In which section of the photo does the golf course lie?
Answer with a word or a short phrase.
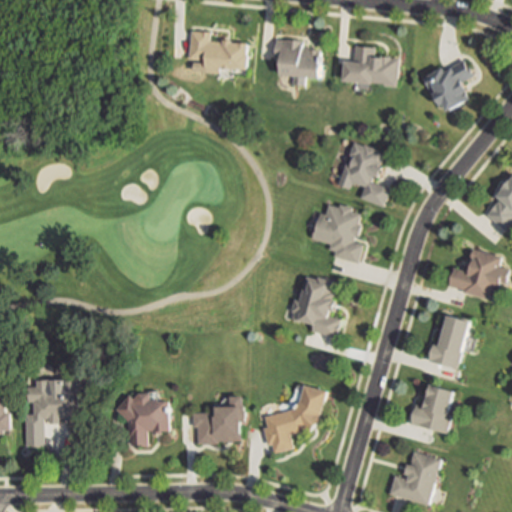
left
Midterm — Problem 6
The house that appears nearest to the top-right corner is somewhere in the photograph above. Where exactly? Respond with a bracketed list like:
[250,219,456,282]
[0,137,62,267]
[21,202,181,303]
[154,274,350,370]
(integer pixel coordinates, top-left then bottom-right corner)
[423,59,476,112]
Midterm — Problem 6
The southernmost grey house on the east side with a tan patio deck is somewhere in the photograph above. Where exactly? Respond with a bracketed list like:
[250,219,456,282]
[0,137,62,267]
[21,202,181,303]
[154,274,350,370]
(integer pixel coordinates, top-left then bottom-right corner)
[389,453,448,505]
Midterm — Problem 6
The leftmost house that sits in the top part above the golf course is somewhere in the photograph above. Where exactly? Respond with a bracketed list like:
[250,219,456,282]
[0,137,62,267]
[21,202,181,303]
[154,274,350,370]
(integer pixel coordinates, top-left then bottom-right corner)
[190,30,250,80]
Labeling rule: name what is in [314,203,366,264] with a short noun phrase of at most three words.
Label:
house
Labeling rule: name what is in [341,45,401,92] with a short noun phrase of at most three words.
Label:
house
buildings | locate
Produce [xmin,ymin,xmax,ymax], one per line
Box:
[314,203,366,264]
[409,386,454,432]
[449,250,510,298]
[341,45,401,92]
[26,380,67,448]
[190,30,250,80]
[264,386,328,453]
[427,314,479,368]
[290,274,342,334]
[423,59,476,112]
[336,142,390,209]
[486,176,512,232]
[0,398,12,434]
[389,453,448,505]
[274,39,327,88]
[120,392,174,447]
[193,396,245,445]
